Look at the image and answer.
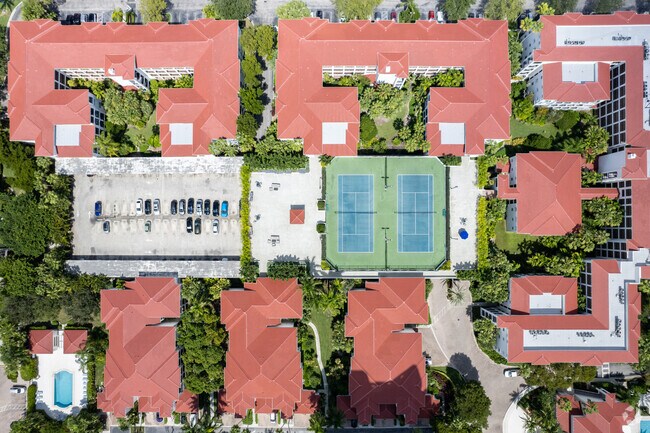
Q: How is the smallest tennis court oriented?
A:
from top to bottom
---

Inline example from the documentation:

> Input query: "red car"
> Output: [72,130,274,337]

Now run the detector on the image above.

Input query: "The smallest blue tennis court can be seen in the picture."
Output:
[397,174,434,253]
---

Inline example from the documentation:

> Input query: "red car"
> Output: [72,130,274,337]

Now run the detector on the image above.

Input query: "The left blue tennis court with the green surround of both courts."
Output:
[326,158,446,270]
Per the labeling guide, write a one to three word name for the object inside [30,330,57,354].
building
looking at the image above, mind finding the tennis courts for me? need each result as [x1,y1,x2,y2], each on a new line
[326,158,446,270]
[397,174,434,253]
